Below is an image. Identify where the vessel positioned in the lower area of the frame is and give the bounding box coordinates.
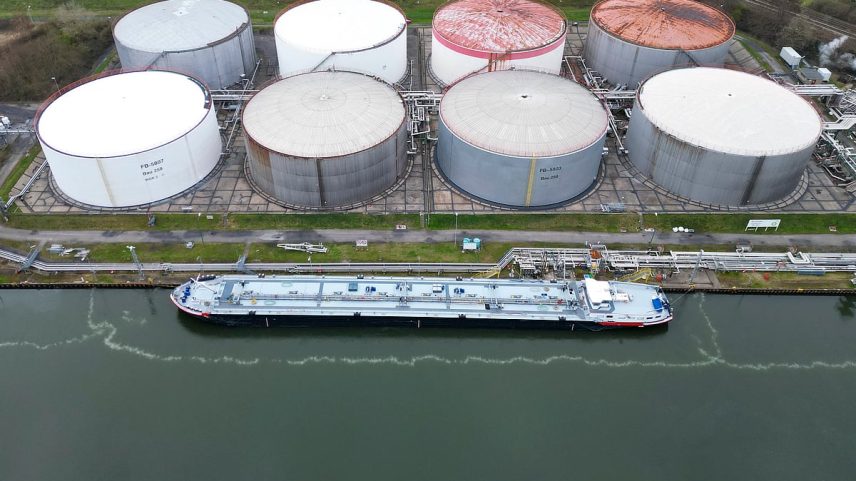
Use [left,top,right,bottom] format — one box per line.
[169,271,674,332]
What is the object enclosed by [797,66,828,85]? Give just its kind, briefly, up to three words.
shed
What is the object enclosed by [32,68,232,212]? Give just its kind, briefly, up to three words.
storage tank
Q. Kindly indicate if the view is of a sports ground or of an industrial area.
industrial area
